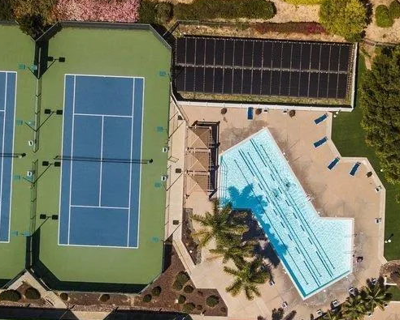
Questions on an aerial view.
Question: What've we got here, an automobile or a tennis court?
tennis court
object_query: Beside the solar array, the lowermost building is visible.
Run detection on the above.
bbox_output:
[183,125,213,197]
